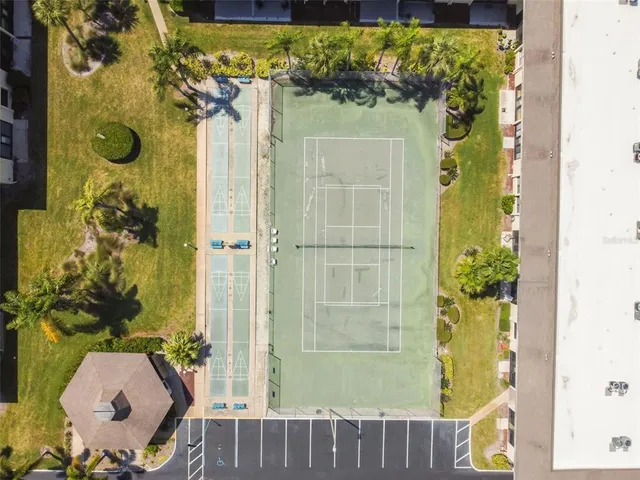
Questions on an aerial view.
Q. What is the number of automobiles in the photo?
zero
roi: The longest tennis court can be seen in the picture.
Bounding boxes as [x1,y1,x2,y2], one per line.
[267,79,441,418]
